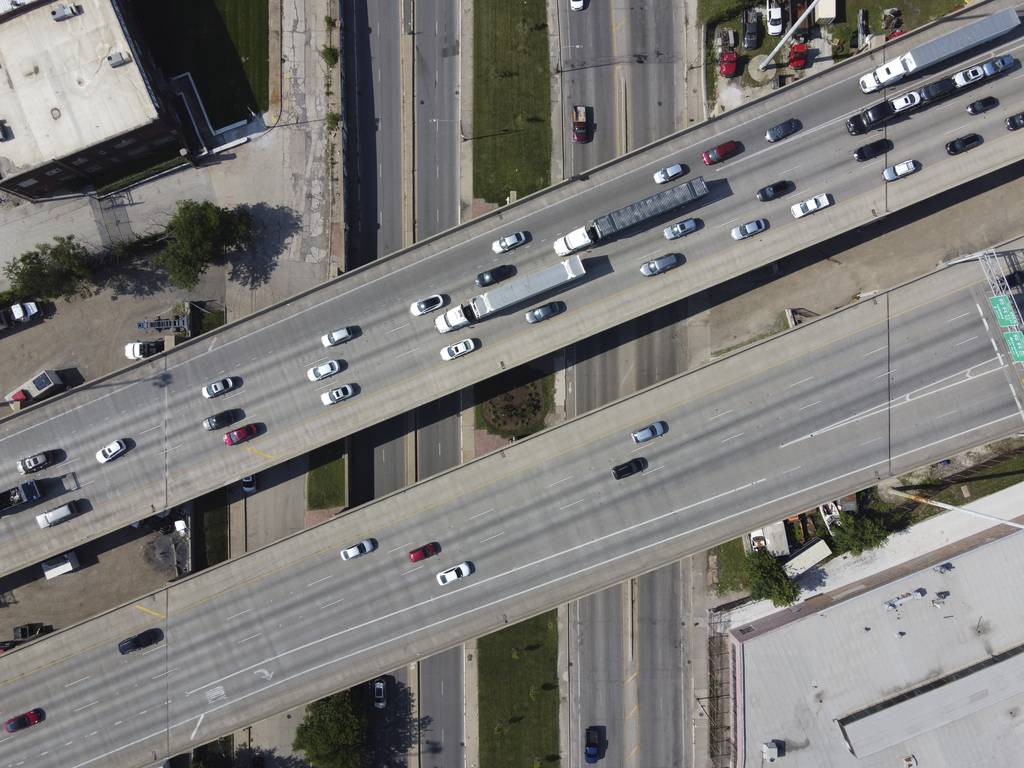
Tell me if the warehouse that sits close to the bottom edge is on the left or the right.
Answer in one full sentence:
The warehouse that sits close to the bottom edge appears in the right half of the scene.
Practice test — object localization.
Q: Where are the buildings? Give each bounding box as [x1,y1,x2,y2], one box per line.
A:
[835,491,856,510]
[0,0,189,217]
[728,513,1024,768]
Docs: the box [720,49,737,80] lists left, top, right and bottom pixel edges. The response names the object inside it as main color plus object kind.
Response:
red car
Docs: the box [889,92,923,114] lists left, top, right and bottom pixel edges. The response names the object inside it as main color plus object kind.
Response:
white car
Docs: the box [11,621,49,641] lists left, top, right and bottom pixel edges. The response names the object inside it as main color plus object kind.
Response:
black vehicle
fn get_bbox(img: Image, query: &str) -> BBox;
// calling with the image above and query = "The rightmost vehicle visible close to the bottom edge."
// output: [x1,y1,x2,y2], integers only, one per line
[584,723,600,762]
